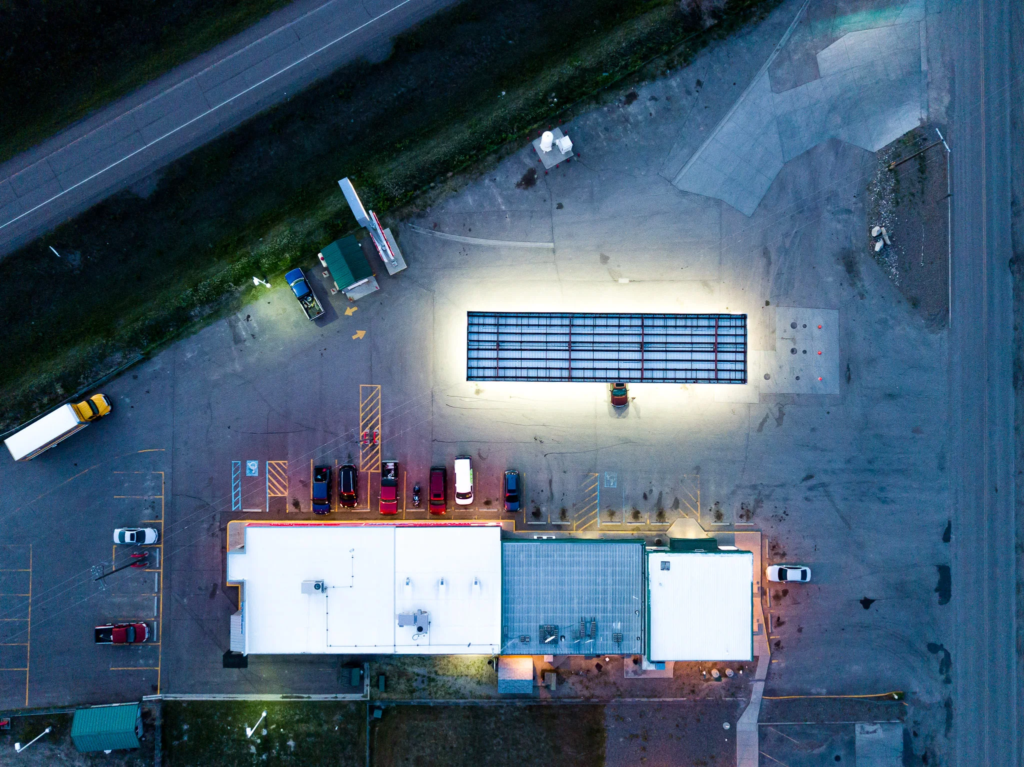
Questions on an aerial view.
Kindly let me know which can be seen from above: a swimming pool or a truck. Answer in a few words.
truck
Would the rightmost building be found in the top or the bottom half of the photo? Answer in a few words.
bottom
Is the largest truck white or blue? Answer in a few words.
white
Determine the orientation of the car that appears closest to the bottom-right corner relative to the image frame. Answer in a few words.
from side to side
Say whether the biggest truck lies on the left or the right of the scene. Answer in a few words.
left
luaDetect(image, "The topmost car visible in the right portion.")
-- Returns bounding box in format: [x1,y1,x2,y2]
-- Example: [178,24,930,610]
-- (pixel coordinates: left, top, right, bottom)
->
[608,385,630,408]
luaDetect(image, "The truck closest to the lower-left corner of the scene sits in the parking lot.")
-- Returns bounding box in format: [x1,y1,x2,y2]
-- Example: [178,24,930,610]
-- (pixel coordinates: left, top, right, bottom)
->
[94,622,152,646]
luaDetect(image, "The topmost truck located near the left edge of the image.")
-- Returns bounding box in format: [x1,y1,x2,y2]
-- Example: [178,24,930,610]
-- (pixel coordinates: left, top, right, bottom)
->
[5,387,124,459]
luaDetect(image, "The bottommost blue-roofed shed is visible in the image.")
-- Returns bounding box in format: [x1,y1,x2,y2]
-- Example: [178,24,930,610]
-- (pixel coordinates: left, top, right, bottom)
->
[71,699,153,752]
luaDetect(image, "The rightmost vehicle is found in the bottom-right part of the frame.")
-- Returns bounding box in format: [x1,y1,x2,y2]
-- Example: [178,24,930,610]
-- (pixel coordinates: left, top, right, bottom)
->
[765,564,811,585]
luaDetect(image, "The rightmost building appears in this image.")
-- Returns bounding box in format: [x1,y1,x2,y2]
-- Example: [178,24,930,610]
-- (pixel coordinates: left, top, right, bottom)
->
[644,537,753,662]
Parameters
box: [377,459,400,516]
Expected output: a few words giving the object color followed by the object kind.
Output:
red truck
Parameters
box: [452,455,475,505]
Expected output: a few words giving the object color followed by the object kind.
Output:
white vehicle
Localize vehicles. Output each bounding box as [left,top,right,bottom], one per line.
[310,464,333,516]
[113,526,160,547]
[608,385,630,408]
[427,467,449,514]
[94,622,152,646]
[337,463,359,509]
[452,455,475,505]
[377,459,400,516]
[5,387,124,459]
[765,564,811,585]
[286,268,326,322]
[413,484,420,504]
